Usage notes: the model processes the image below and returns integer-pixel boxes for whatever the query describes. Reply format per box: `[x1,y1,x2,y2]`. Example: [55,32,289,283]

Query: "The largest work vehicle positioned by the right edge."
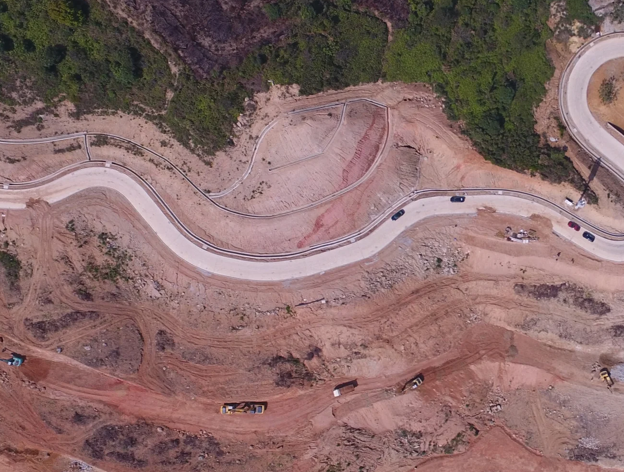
[598,368,615,396]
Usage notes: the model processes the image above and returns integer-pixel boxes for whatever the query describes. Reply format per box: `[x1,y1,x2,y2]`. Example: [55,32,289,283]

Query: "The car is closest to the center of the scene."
[390,208,405,221]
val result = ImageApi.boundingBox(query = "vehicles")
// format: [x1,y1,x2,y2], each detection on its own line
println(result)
[330,384,356,398]
[399,376,425,395]
[567,220,582,232]
[241,405,266,416]
[0,356,23,368]
[582,232,597,242]
[390,208,405,221]
[451,197,466,203]
[598,368,615,396]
